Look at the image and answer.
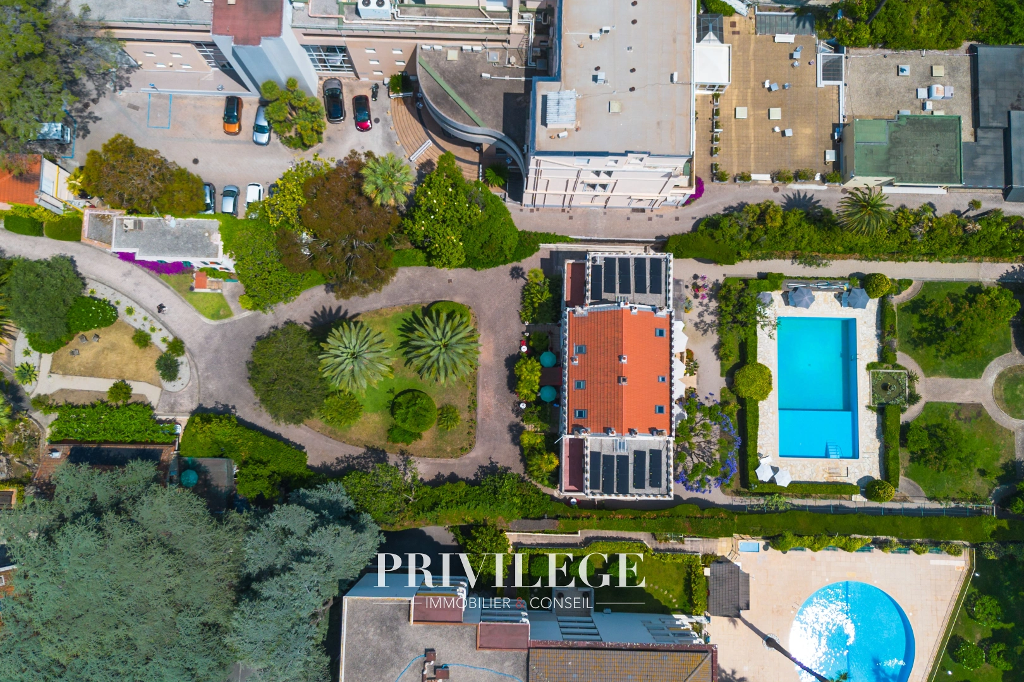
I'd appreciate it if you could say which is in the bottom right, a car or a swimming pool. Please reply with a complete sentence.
The one visible in the bottom right is a swimming pool.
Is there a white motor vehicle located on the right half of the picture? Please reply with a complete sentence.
No, no white motor vehicle is visible on the right half of the picture.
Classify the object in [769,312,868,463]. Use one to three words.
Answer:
swimming pool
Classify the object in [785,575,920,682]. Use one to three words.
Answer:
swimming pool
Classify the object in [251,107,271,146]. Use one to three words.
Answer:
car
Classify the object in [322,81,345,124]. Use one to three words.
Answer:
car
